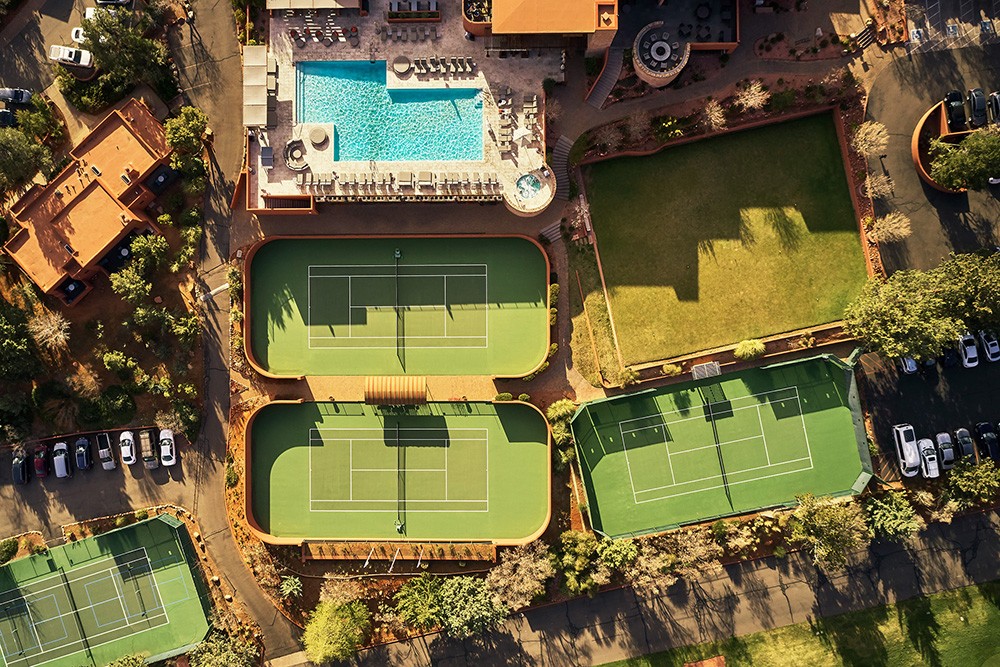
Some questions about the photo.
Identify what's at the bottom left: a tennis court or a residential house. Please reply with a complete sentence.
The feature located at the bottom left is a tennis court.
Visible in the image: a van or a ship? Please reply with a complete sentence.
This aerial view contains a van.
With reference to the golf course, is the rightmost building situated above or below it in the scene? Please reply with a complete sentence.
From this view, the rightmost building can be seen above the golf course.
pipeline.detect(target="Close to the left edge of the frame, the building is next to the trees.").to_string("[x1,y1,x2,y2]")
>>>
[6,98,181,307]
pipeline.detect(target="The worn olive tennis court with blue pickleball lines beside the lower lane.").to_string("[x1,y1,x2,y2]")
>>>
[0,512,207,667]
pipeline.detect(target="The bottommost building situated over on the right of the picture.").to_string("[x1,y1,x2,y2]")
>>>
[688,358,722,381]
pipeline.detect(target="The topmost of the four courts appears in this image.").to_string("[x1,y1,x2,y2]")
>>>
[252,243,548,376]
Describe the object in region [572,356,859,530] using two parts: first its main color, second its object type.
green tennis court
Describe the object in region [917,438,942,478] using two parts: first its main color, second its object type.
white car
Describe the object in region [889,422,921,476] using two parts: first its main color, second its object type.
white van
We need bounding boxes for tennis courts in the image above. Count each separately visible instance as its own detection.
[572,356,859,530]
[252,243,548,376]
[0,512,207,667]
[252,402,548,540]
